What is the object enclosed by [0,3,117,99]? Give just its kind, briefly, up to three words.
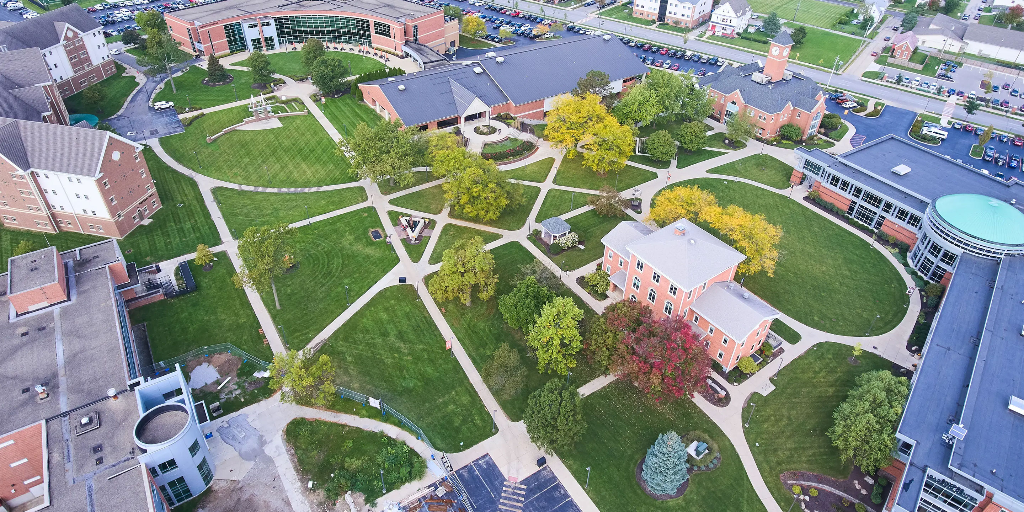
building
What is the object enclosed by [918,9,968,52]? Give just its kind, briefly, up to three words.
building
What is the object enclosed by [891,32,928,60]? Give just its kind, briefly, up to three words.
house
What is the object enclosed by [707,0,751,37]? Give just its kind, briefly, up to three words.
house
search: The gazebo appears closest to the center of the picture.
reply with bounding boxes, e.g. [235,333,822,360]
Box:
[541,214,572,241]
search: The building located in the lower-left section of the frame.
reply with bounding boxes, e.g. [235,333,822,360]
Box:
[0,238,227,512]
